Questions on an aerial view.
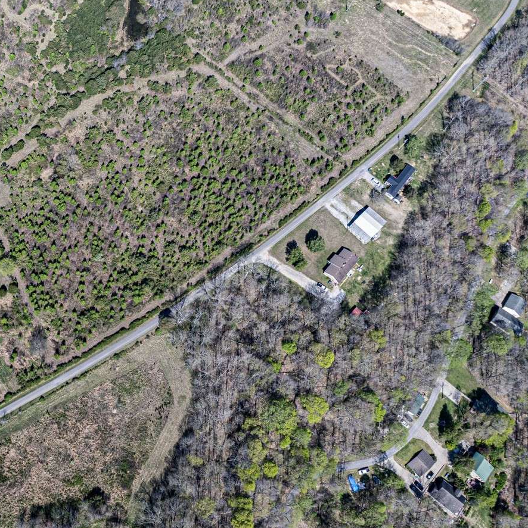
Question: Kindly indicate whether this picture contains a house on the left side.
No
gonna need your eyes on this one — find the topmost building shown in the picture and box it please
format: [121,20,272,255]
[383,163,416,204]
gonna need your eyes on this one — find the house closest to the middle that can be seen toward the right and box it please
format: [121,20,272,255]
[322,250,361,288]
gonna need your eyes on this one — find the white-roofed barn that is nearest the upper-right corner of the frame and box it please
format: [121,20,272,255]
[348,209,386,244]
